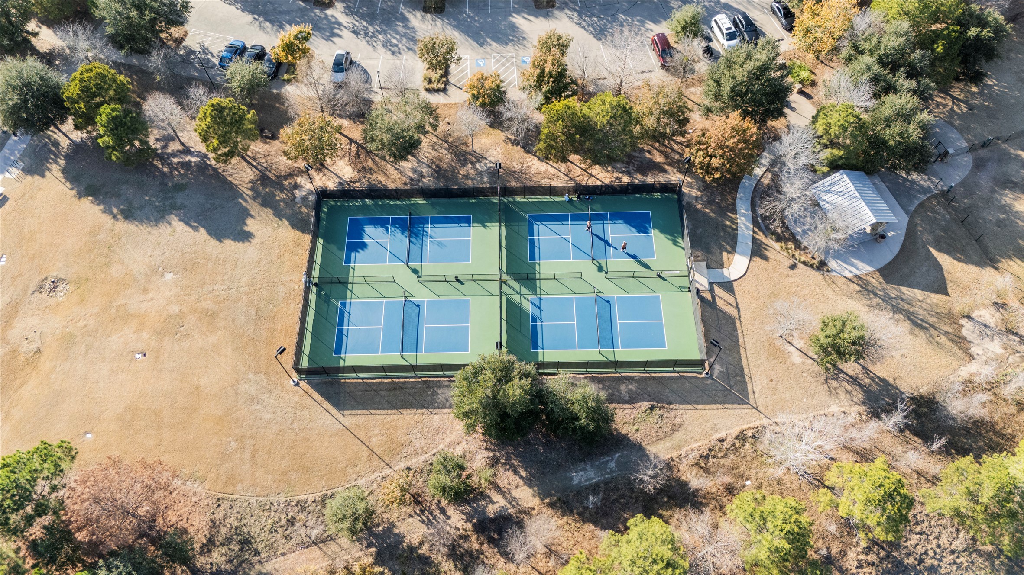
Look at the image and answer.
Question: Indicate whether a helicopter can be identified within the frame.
No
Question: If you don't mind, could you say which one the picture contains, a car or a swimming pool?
car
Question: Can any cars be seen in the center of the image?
No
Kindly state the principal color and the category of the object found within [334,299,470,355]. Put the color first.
blue sports court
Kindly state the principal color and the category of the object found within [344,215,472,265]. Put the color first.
blue sports court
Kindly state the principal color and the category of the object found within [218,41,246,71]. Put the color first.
blue car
